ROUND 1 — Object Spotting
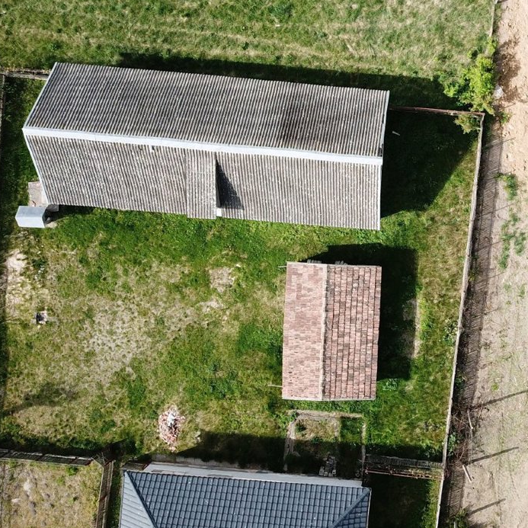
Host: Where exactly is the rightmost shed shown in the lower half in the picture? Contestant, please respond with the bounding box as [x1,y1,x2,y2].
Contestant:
[268,260,382,403]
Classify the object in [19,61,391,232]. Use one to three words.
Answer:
barn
